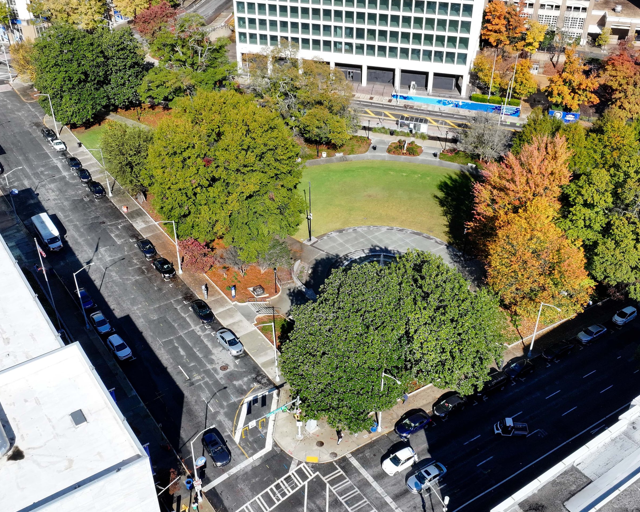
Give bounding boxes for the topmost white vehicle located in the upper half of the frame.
[50,139,67,154]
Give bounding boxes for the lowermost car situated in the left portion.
[199,429,235,469]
